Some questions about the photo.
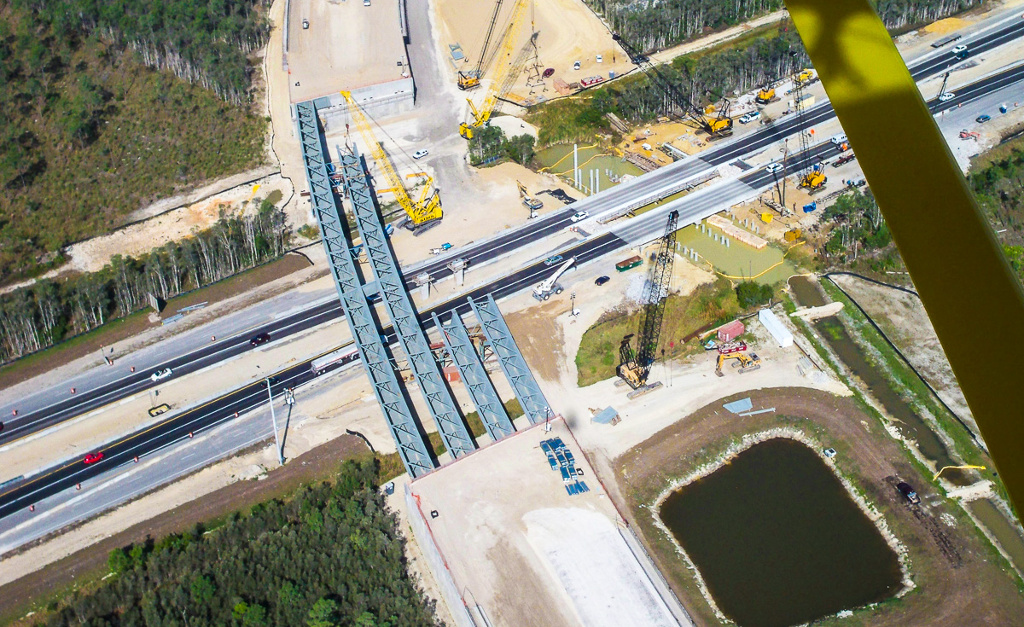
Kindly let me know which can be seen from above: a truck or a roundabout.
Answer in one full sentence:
There is a truck in the scene.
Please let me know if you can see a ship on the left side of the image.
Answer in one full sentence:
No, no ship appears on the left side of the image.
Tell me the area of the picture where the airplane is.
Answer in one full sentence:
The airplane is in the right part of the image.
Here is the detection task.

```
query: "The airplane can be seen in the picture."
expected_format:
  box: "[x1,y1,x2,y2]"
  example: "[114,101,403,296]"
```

[784,0,1024,541]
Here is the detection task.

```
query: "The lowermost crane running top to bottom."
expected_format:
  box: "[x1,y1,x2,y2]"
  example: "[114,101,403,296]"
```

[609,211,681,391]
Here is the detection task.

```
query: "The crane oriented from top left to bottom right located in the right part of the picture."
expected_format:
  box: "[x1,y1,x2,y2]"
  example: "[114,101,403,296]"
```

[610,33,744,141]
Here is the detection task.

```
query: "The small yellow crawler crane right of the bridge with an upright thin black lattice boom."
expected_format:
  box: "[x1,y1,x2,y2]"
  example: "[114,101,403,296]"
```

[791,49,836,192]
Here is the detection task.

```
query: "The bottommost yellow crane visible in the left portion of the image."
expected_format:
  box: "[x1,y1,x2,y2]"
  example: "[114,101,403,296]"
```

[343,92,449,233]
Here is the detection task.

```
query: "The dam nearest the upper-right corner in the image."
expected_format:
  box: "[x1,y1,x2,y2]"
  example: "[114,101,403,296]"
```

[793,301,843,320]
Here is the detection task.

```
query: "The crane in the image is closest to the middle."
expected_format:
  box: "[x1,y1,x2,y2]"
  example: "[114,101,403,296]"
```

[534,259,577,300]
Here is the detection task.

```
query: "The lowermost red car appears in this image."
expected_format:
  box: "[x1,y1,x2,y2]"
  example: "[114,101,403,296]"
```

[80,450,105,463]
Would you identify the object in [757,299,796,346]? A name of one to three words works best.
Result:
trailer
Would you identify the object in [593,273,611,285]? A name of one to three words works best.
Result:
vehicle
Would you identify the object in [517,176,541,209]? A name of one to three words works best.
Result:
work vehicle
